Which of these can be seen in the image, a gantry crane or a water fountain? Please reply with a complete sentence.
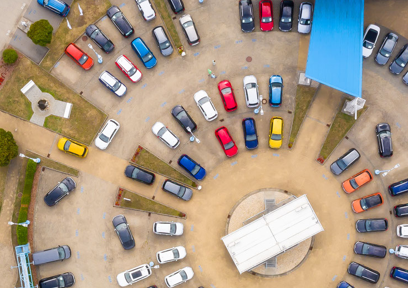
Looking from above, you can make out a water fountain.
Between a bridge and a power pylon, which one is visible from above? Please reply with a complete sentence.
There is a power pylon in the scene.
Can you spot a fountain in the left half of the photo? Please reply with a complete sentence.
Yes, a fountain can be seen in the left half of the photo.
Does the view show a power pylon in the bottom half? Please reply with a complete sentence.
No, I see no power pylon in the bottom half.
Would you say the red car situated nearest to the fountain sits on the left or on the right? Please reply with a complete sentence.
The red car situated nearest to the fountain is on the left side of the image.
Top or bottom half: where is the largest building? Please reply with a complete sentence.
It is in the bottom half that the largest building appears.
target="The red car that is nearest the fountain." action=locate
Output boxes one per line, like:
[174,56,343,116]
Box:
[65,41,93,71]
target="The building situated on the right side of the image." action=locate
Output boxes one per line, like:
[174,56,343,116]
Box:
[221,195,325,275]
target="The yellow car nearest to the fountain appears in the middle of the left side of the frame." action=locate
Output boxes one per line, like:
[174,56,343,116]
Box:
[57,137,89,159]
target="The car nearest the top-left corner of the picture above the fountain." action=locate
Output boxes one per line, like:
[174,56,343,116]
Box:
[35,0,72,19]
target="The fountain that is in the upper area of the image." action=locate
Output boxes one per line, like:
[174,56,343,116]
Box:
[21,83,64,127]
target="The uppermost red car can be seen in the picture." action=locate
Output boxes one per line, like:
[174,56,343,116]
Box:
[258,0,275,30]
